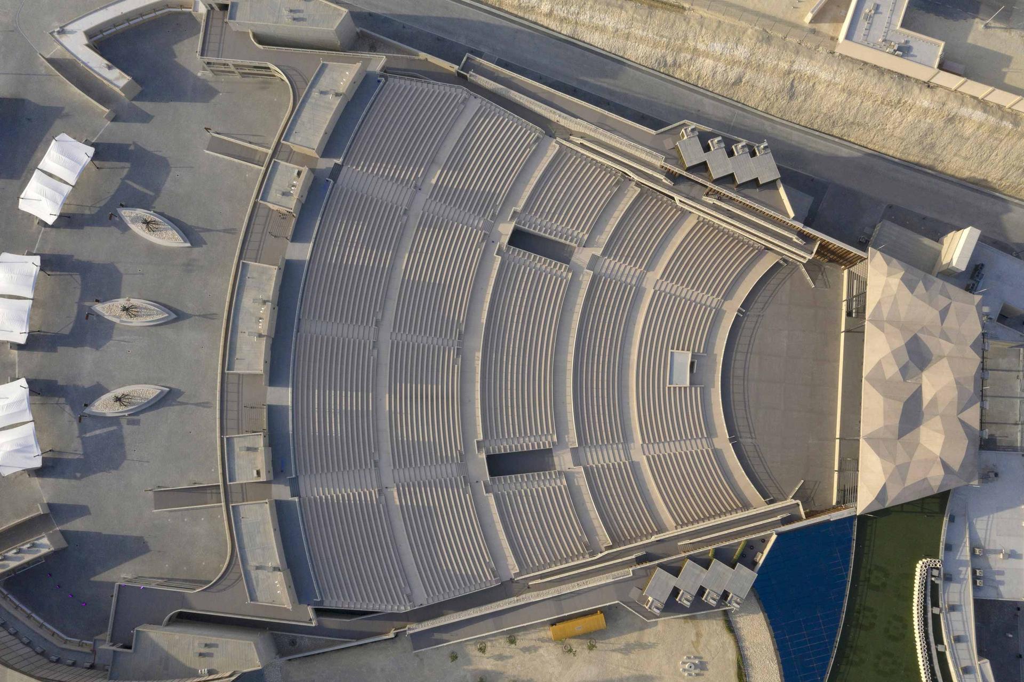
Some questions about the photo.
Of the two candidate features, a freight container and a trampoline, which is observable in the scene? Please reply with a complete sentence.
Of the two, only a freight container appears.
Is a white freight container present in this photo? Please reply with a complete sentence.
No, the photo shows no white freight container.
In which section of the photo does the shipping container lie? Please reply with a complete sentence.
You can find the shipping container in the bottom area of the picture.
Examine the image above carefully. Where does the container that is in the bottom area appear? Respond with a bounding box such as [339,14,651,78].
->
[550,607,607,642]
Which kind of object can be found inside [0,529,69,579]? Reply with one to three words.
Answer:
building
